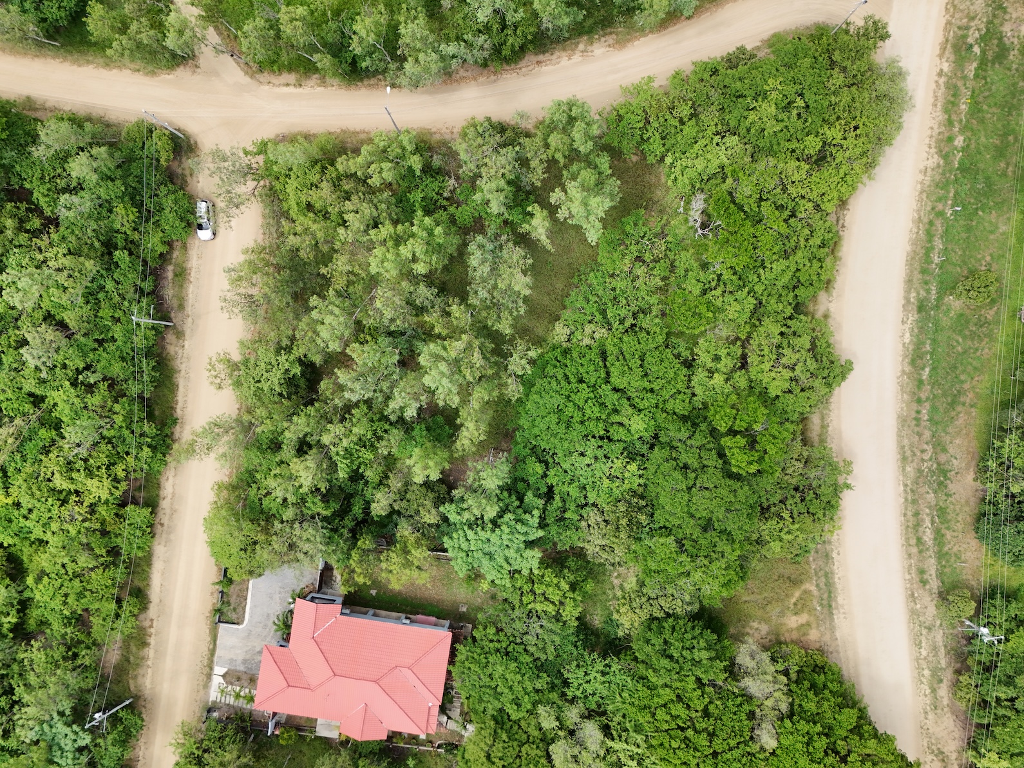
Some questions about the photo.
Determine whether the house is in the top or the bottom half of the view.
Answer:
bottom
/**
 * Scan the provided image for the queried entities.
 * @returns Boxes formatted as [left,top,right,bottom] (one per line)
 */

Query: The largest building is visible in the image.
[256,586,452,741]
